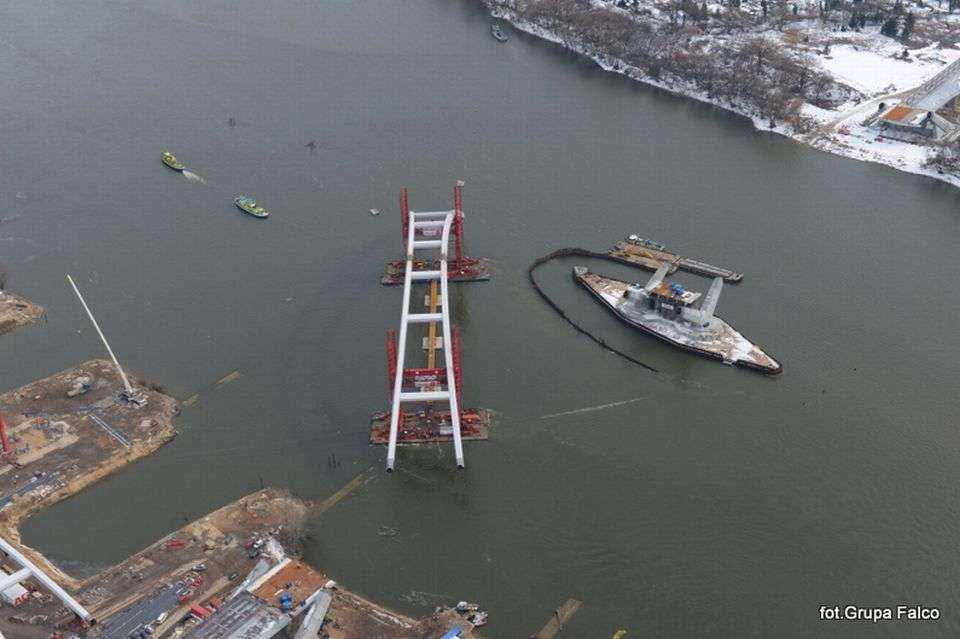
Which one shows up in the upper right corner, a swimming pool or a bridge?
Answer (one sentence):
The feature located in the upper right corner is a bridge.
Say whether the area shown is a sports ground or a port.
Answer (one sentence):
This looks like a port.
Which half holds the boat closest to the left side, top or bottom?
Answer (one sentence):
You can find the boat closest to the left side in the top half.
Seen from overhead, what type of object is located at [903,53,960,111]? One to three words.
bridge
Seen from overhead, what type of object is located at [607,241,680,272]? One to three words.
ship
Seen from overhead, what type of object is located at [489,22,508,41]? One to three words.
boat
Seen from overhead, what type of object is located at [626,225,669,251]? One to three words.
boat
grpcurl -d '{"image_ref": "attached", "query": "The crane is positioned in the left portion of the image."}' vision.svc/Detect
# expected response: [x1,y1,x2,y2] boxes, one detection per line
[65,273,151,407]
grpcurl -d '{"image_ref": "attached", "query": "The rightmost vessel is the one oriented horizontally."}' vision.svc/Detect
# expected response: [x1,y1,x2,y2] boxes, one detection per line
[673,257,743,284]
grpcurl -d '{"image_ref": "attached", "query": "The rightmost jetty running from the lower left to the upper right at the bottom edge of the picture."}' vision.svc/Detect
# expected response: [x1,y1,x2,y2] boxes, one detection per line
[532,597,583,639]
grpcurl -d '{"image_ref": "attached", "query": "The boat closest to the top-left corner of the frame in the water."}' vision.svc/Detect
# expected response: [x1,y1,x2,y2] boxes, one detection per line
[160,149,188,171]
